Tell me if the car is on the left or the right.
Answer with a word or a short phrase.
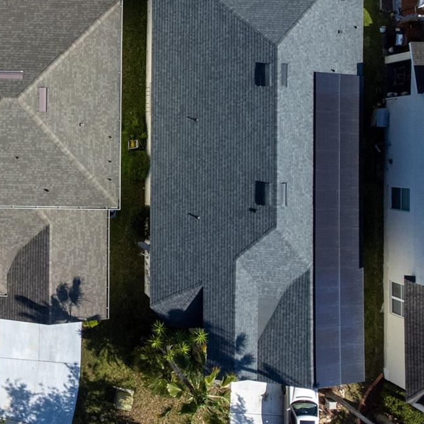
right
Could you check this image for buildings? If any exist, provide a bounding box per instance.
[0,0,124,325]
[145,0,364,389]
[385,38,424,419]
